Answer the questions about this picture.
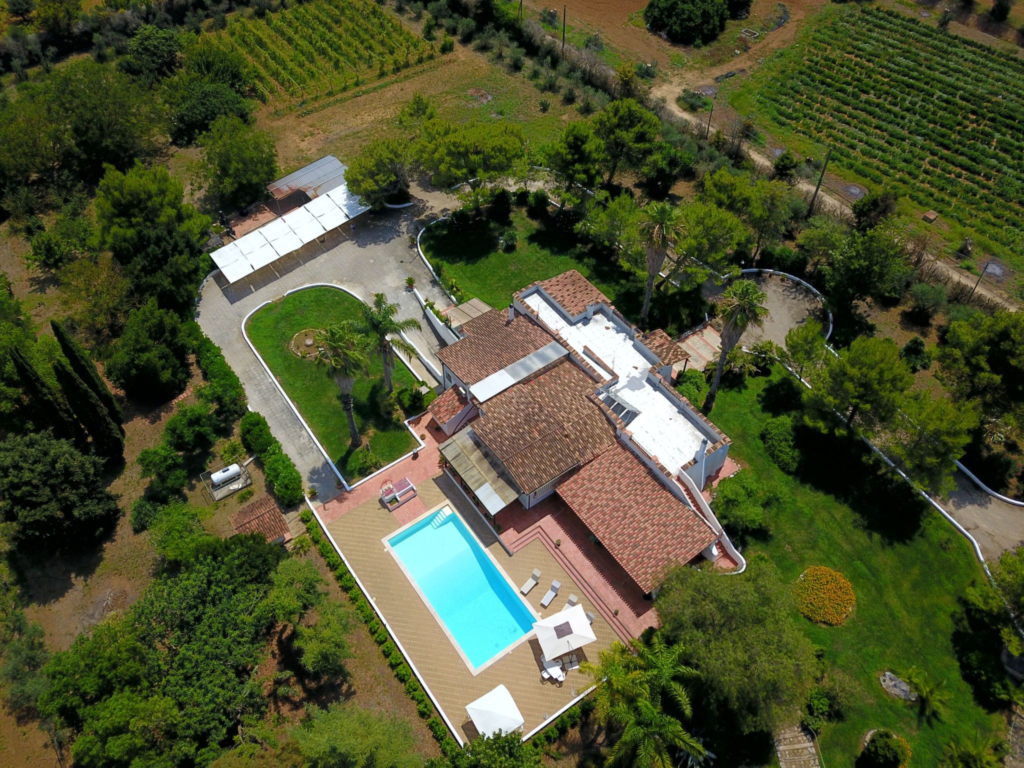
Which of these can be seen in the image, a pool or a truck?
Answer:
pool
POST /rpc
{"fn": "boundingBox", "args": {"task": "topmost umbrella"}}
[533,604,597,673]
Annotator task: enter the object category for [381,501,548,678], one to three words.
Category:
swimming pool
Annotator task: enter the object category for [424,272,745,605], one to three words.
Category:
house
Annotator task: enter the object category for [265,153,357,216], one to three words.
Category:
shed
